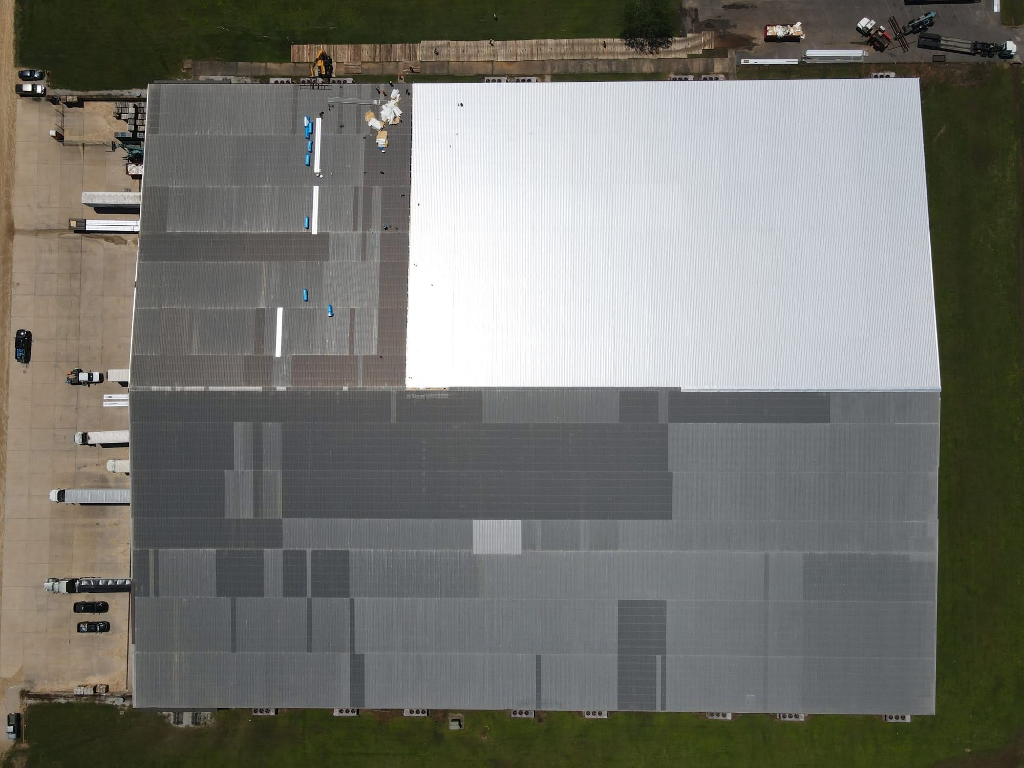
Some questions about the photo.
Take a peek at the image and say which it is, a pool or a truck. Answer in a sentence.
The one in the frame is a truck.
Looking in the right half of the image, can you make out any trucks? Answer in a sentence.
Yes, a truck shows up in the right half of the image.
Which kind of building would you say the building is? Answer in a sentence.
I'd identify the building as a warehouse.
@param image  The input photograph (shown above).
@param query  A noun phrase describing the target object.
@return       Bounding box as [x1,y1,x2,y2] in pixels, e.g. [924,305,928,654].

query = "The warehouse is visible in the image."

[126,76,942,716]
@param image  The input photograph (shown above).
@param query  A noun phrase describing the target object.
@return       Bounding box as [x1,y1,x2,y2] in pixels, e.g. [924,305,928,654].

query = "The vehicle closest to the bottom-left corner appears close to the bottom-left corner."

[4,710,21,740]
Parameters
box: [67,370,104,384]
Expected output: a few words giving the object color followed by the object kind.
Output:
white vehicle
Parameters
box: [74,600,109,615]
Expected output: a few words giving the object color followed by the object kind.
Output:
black vehicle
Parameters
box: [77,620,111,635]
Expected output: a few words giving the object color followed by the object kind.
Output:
black vehicle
